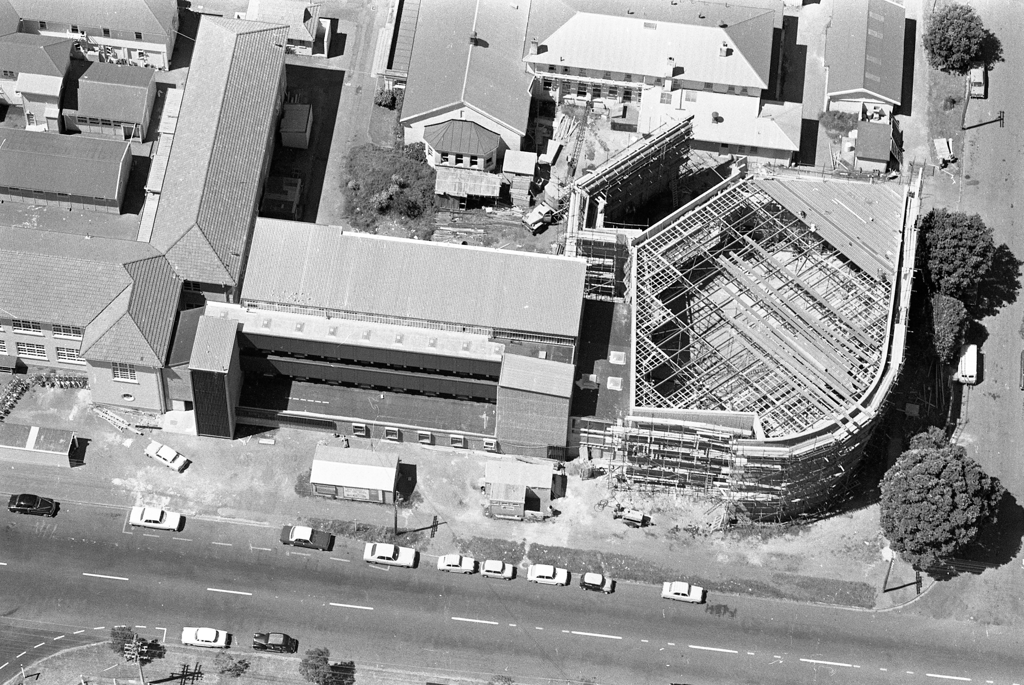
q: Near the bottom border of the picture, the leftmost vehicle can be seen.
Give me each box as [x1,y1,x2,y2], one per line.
[179,625,231,651]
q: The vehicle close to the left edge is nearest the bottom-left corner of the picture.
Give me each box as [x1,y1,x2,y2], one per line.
[6,493,59,518]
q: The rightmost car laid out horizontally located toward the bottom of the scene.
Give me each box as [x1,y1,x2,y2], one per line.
[659,580,706,605]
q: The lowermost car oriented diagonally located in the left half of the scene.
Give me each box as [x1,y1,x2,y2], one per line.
[144,437,190,475]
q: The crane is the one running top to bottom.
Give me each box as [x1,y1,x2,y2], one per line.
[561,102,590,184]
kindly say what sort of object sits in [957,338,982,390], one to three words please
vehicle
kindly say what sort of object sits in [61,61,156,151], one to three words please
shed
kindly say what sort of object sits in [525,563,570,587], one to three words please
car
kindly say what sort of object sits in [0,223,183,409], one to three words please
building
